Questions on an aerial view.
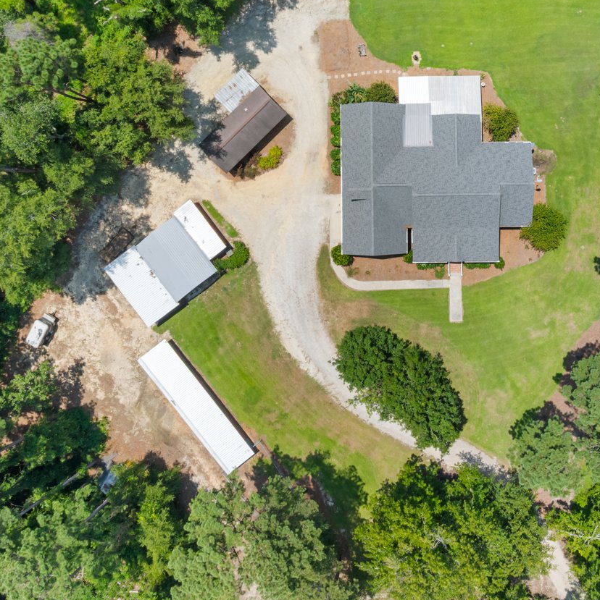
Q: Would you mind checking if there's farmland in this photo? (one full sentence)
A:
No, the scene doesn't show any farmland.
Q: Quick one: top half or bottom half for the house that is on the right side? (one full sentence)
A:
Seen from above, the house that is on the right side lies in the top half of the view.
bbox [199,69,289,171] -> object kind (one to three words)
shed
